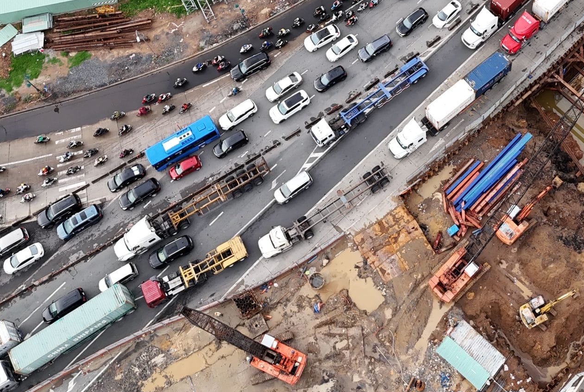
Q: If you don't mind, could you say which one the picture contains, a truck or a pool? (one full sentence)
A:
The image shows a truck.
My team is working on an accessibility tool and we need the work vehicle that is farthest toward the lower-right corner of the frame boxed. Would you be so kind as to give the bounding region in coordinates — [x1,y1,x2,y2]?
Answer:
[511,288,581,333]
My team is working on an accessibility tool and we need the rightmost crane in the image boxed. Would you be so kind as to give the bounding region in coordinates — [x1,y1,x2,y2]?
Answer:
[426,94,584,312]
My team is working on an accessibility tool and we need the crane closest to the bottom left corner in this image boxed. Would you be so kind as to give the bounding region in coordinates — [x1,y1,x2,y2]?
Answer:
[179,305,319,392]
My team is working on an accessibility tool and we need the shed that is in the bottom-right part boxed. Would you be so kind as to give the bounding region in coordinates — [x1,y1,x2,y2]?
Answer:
[430,320,506,390]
